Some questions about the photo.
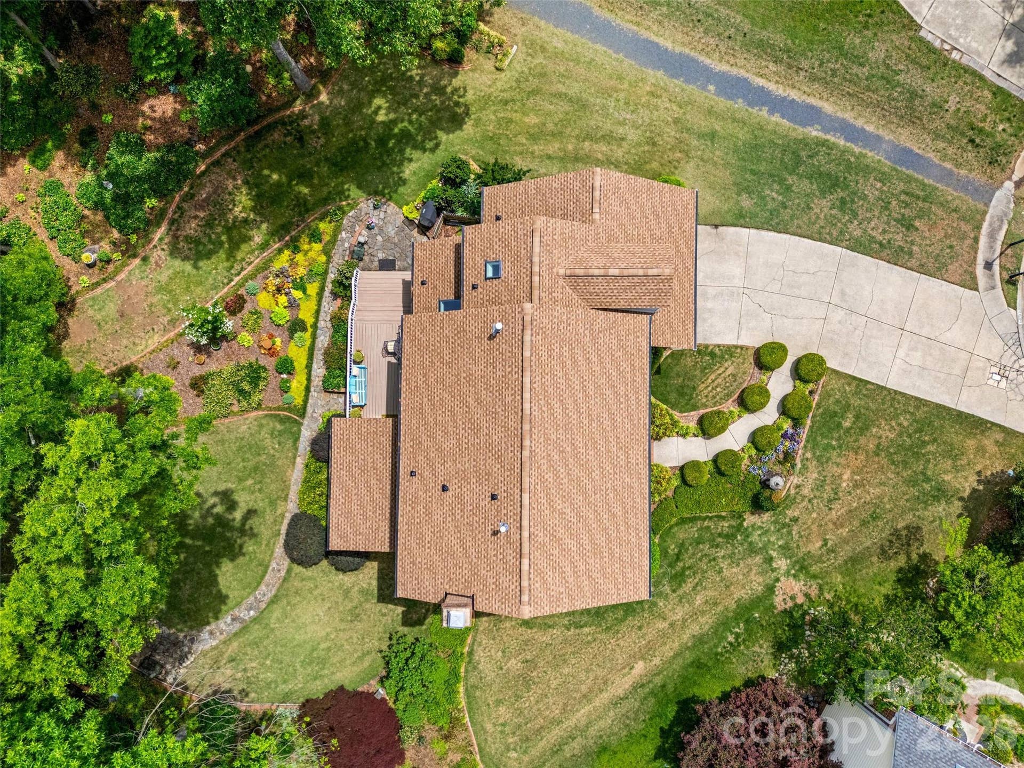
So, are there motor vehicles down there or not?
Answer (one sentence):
No, this view has no motor vehicle in it.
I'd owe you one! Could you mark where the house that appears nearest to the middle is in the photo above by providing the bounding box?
[325,168,700,628]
